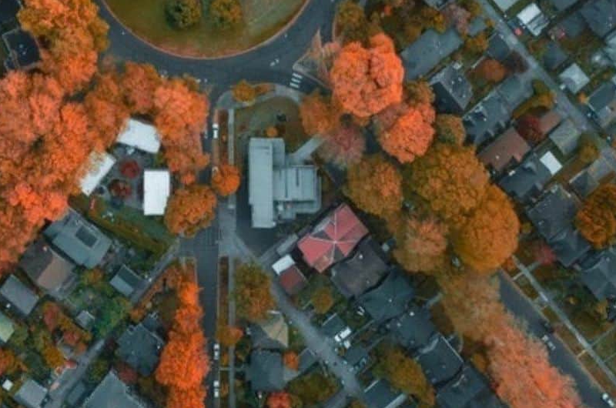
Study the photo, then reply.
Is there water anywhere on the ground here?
No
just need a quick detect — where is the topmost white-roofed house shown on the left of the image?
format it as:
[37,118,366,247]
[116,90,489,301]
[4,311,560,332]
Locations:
[117,116,161,154]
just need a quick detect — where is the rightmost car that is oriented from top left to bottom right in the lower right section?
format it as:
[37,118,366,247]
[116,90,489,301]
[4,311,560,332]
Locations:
[602,392,615,407]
